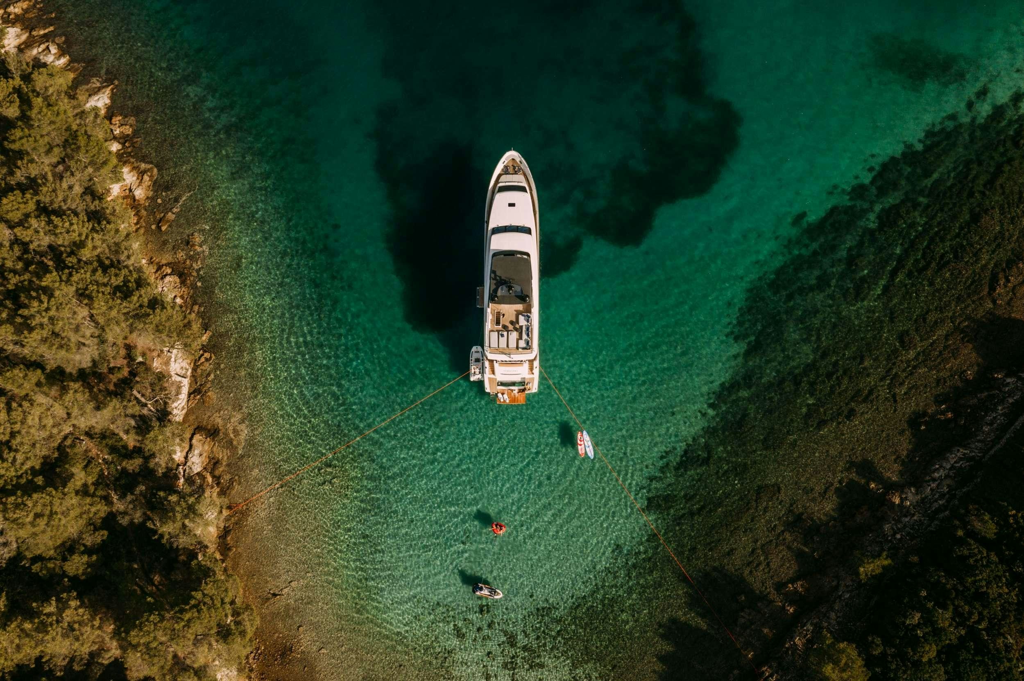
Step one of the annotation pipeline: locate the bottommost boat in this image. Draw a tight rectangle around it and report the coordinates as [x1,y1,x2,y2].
[471,584,503,599]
